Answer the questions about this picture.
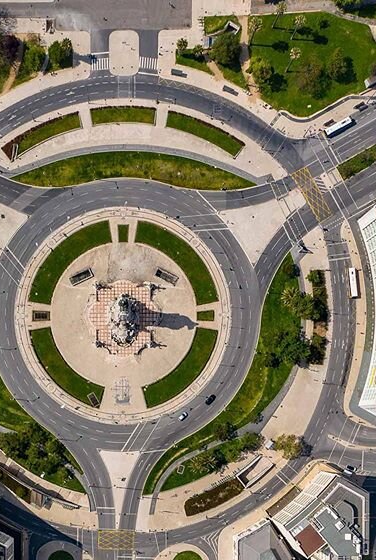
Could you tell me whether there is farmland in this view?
No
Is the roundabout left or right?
left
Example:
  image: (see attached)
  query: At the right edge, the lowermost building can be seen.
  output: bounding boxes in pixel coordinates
[270,468,375,560]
